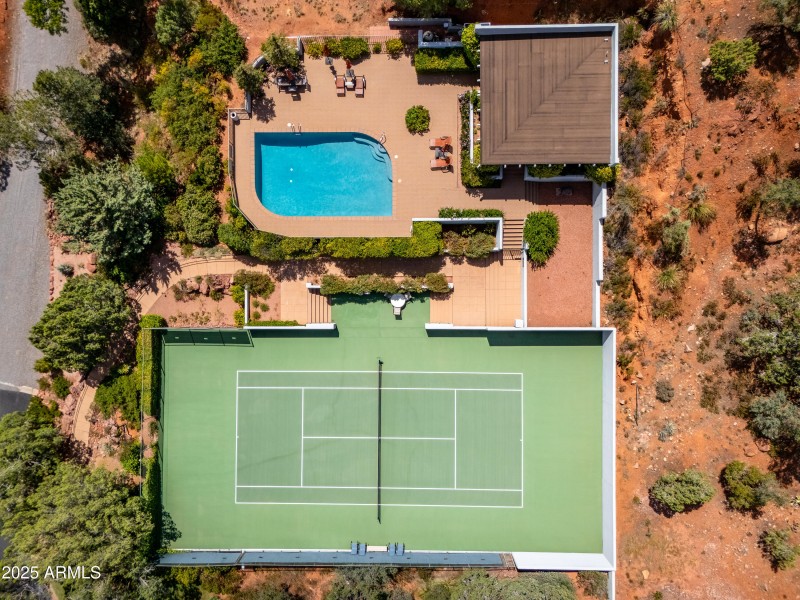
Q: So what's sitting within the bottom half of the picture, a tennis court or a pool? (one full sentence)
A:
It is a tennis court that can be seen within the bottom half of the picture.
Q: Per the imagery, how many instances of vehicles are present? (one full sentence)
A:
The picture shows no vehicles.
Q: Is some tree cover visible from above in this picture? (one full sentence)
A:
Yes, some tree cover is visible.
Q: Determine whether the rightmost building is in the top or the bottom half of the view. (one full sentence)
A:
The rightmost building sits in the top half of the picture.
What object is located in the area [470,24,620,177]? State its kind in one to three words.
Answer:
building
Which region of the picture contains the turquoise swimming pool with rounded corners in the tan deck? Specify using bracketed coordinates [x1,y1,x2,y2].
[250,127,397,221]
